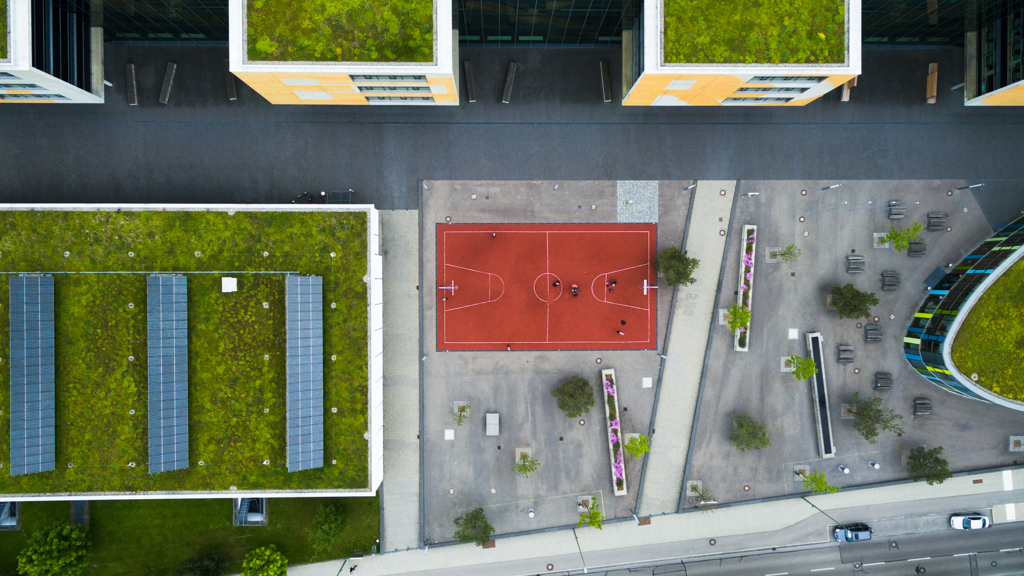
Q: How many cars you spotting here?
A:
two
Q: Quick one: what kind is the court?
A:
basketball court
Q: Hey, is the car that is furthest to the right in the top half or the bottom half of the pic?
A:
bottom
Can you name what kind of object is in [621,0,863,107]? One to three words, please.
building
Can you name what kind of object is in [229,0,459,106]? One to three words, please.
building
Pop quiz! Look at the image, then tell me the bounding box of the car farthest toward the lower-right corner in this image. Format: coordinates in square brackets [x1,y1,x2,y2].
[950,511,988,531]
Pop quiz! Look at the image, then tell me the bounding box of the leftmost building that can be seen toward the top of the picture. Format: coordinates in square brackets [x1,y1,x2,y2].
[0,0,105,104]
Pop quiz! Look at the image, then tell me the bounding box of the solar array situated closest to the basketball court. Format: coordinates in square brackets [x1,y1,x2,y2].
[286,276,323,472]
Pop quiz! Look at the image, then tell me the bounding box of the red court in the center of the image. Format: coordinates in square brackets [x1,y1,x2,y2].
[436,223,658,351]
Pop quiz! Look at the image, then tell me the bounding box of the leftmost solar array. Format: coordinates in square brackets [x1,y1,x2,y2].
[9,276,56,475]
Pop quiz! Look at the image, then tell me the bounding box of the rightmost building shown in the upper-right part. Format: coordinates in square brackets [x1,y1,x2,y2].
[964,10,1024,107]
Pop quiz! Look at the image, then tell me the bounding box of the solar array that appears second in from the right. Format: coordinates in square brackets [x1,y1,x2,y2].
[147,276,189,473]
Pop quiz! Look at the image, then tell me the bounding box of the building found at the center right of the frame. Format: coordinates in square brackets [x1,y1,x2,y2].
[903,216,1024,417]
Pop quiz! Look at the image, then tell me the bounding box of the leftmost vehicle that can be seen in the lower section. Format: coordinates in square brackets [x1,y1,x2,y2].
[833,522,873,542]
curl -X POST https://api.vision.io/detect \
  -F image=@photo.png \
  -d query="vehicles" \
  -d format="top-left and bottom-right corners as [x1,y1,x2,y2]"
[950,511,988,531]
[833,522,873,542]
